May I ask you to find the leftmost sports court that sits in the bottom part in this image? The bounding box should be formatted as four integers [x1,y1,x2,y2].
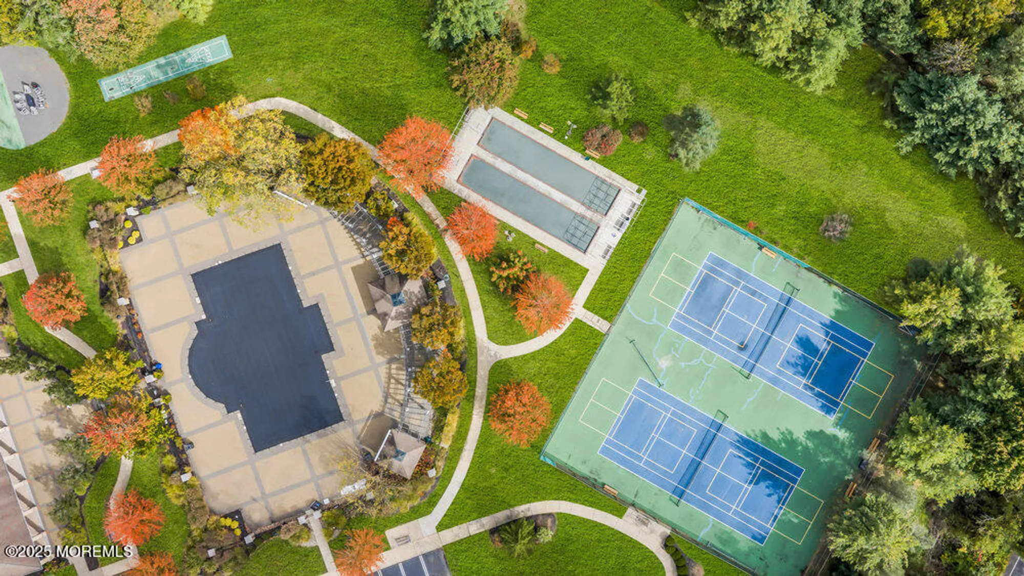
[580,379,697,474]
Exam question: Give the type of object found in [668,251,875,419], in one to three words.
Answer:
tennis court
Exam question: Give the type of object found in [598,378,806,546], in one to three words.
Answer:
tennis court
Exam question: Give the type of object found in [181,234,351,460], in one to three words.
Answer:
swimming pool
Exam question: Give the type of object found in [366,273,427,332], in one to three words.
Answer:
gazebo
